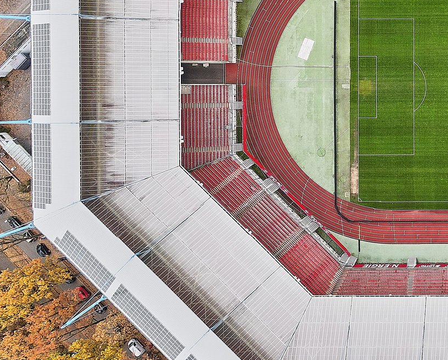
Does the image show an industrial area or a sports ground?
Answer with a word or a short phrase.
sports ground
